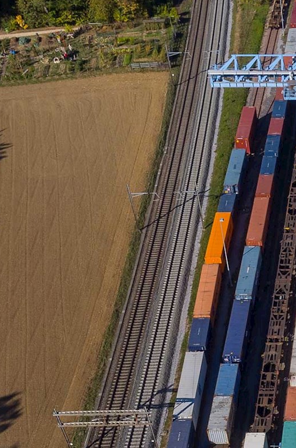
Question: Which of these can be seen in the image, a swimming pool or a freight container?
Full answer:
It is a freight container that can be seen here.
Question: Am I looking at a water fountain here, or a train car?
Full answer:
Visible in the photo is a train car.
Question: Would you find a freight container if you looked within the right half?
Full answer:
Yes, the scene does show a freight container within the right half.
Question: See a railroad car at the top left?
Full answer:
No, I can find no railroad car at the top left.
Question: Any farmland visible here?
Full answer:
Yes, the picture does contain farmland.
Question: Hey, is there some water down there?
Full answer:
No, there's no water in this view.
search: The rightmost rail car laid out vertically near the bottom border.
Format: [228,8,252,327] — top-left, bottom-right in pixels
[254,343,285,445]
